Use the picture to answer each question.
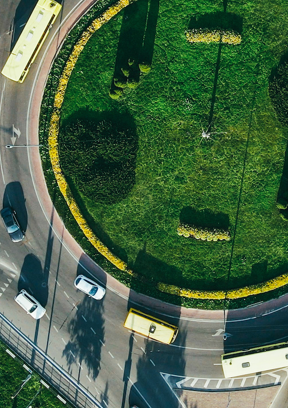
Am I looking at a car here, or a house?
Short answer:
car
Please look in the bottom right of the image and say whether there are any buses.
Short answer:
Yes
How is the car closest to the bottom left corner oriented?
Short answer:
diagonally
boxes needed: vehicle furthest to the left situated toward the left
[0,206,26,241]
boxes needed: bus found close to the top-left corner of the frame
[1,0,63,85]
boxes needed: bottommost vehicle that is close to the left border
[13,288,46,320]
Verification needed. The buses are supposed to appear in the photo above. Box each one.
[221,339,288,380]
[1,0,63,85]
[123,305,183,349]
